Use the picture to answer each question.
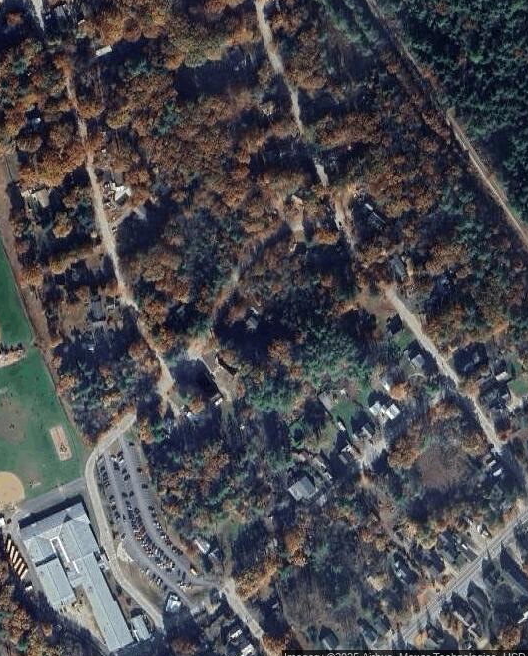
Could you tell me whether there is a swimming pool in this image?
No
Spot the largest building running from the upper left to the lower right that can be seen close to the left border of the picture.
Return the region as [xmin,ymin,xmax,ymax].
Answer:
[20,502,134,653]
